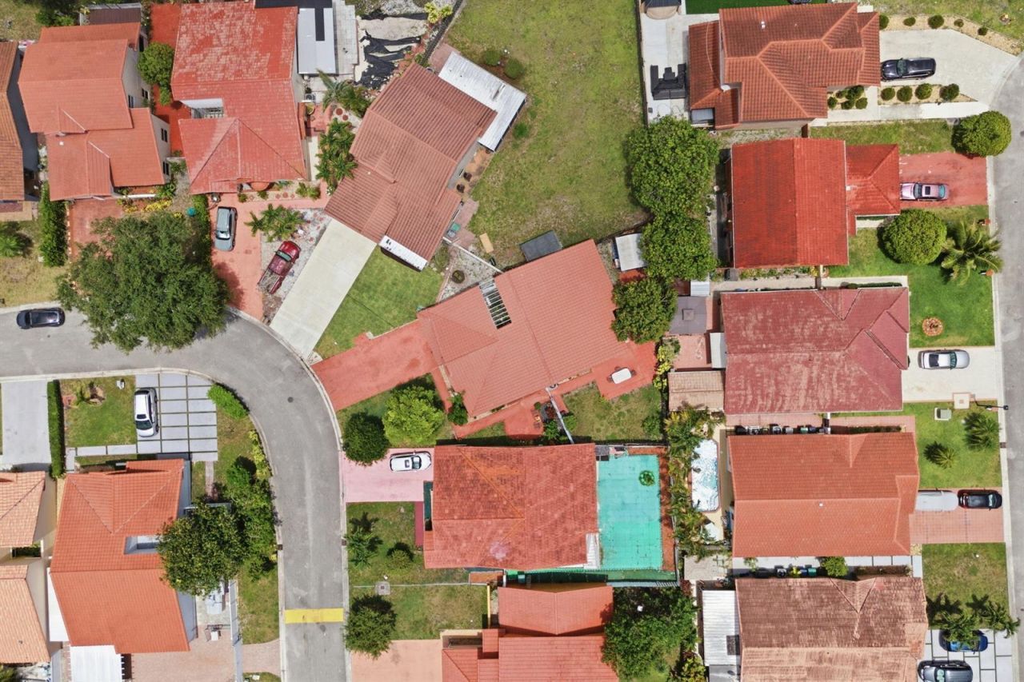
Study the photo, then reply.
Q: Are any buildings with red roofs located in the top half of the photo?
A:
Yes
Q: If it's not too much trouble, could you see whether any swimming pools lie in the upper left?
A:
No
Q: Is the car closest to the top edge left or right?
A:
right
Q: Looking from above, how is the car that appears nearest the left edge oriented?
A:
from left to right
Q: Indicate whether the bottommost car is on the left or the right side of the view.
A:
right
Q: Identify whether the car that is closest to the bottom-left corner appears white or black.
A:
white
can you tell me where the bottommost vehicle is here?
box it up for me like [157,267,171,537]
[917,658,974,682]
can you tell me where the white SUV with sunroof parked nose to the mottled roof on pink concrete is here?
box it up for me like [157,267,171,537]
[388,450,433,474]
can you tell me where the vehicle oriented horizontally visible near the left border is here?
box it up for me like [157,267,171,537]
[16,306,67,330]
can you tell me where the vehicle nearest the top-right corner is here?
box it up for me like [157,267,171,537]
[880,55,936,83]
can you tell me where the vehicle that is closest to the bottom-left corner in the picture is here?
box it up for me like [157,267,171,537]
[132,387,160,438]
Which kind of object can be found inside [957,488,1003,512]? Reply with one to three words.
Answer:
car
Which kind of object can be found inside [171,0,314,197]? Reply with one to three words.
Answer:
house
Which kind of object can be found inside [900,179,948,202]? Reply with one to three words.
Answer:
car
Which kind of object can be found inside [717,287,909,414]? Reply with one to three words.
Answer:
house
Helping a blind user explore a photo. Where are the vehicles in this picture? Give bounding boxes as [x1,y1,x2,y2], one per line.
[132,387,160,438]
[16,306,67,330]
[388,450,433,474]
[900,179,948,202]
[957,488,1003,512]
[880,55,936,83]
[917,348,970,371]
[257,239,301,296]
[938,629,989,655]
[917,658,974,682]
